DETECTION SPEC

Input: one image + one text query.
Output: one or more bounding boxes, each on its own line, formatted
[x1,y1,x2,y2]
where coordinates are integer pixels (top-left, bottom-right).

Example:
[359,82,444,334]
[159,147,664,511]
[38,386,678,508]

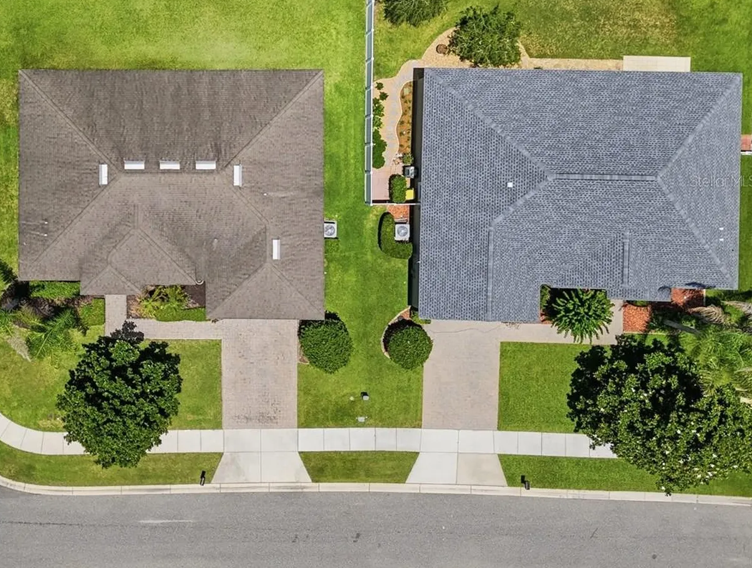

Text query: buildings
[18,68,325,321]
[413,68,743,322]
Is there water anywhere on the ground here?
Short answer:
No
